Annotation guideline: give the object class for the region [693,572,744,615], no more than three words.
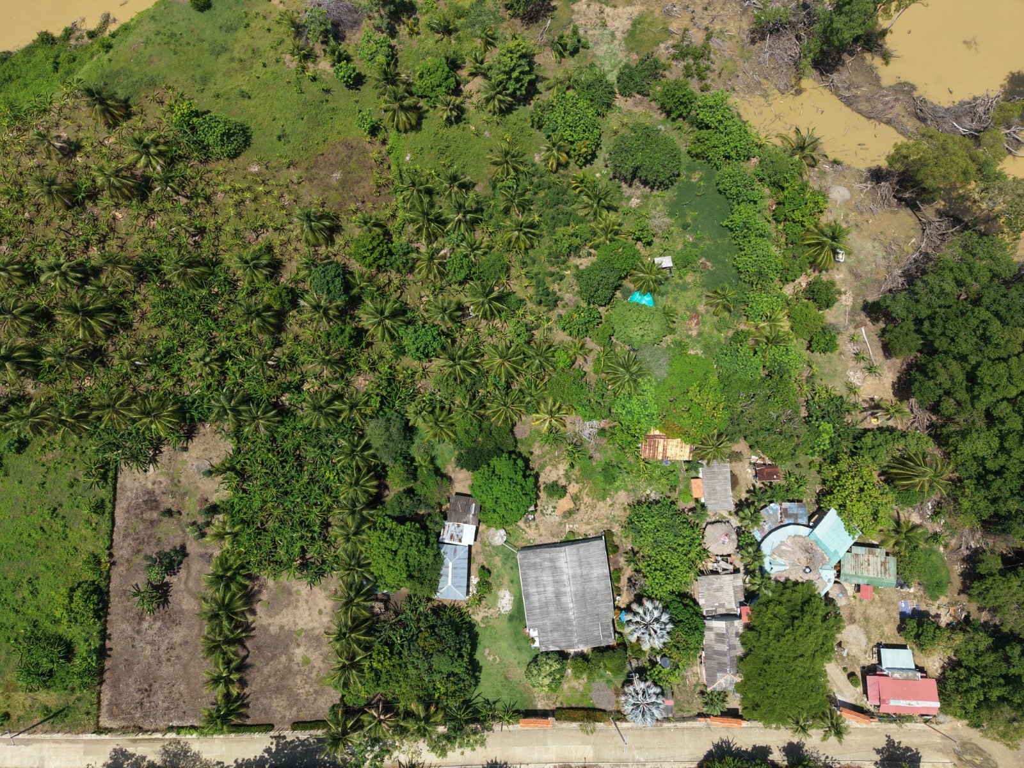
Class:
building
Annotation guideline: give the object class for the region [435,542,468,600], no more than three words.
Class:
house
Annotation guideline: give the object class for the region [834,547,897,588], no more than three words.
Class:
barn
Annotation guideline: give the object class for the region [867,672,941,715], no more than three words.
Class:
house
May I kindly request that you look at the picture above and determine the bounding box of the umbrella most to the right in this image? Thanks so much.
[827,583,852,607]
